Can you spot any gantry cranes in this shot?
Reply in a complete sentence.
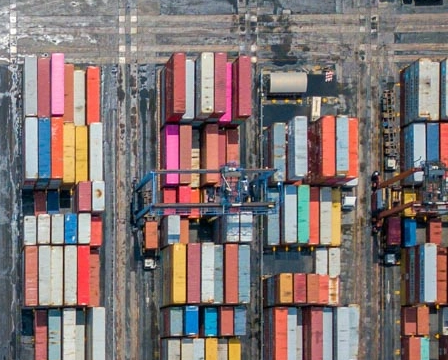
Yes, there is a gantry crane in the image.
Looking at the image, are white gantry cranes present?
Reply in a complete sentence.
No, the photo shows no white gantry crane.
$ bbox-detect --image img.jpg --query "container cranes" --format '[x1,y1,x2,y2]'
[135,166,283,226]
[375,165,448,225]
